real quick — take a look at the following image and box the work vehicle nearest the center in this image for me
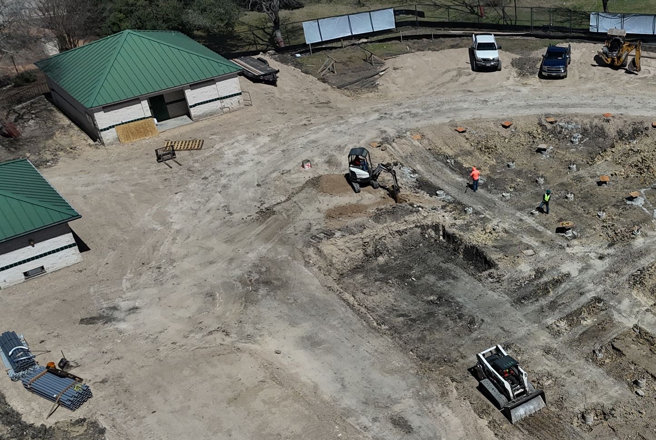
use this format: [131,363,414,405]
[342,148,395,197]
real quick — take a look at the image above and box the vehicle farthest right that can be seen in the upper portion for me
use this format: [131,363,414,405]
[595,28,644,73]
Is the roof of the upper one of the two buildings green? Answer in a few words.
Yes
